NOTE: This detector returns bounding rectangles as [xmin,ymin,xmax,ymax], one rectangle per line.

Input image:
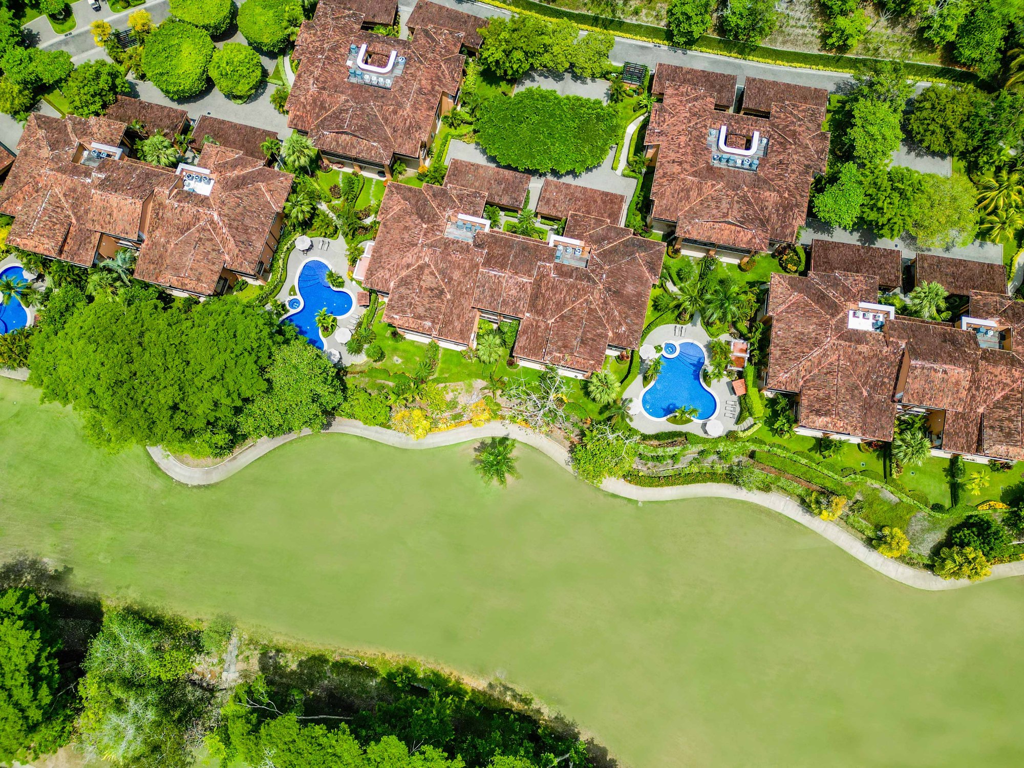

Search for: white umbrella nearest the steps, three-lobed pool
[705,420,721,436]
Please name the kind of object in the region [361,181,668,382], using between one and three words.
house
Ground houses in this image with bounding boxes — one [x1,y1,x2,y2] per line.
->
[285,1,466,179]
[646,80,829,266]
[0,111,298,307]
[361,181,668,382]
[761,268,1024,470]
